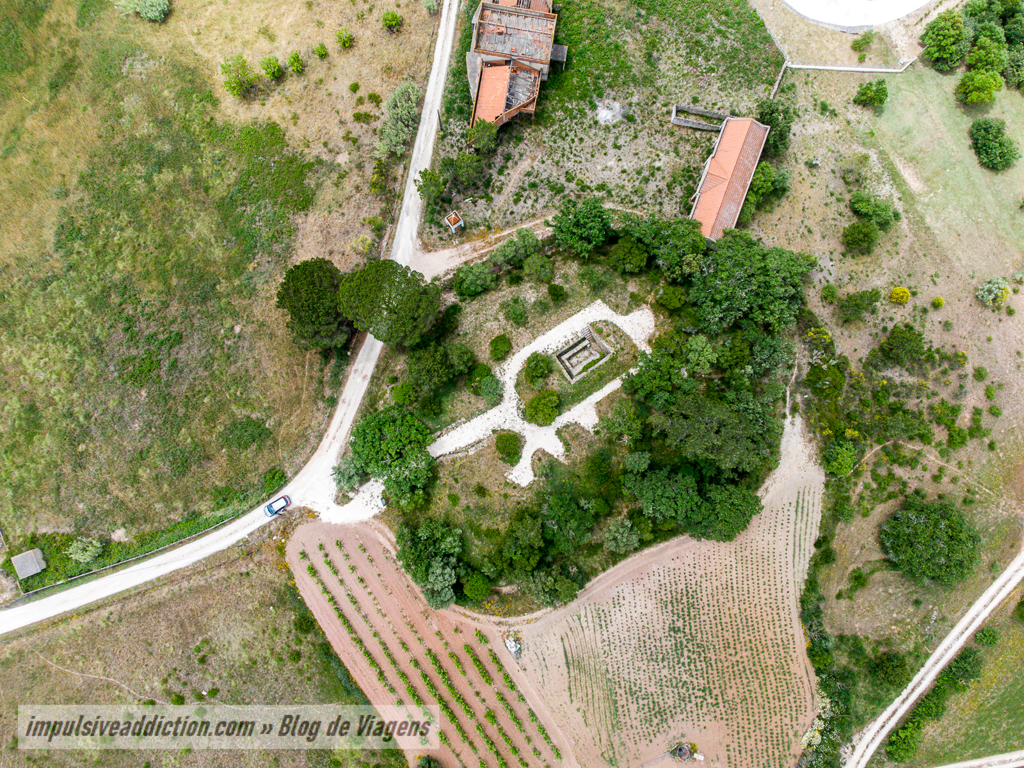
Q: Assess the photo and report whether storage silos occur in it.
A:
No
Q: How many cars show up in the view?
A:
1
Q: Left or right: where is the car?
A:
left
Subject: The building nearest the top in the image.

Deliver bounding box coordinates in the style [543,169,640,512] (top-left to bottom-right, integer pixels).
[467,0,568,136]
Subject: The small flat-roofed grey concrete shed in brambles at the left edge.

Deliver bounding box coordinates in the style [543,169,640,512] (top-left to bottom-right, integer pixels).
[10,550,49,580]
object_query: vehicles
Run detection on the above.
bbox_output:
[262,493,292,518]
